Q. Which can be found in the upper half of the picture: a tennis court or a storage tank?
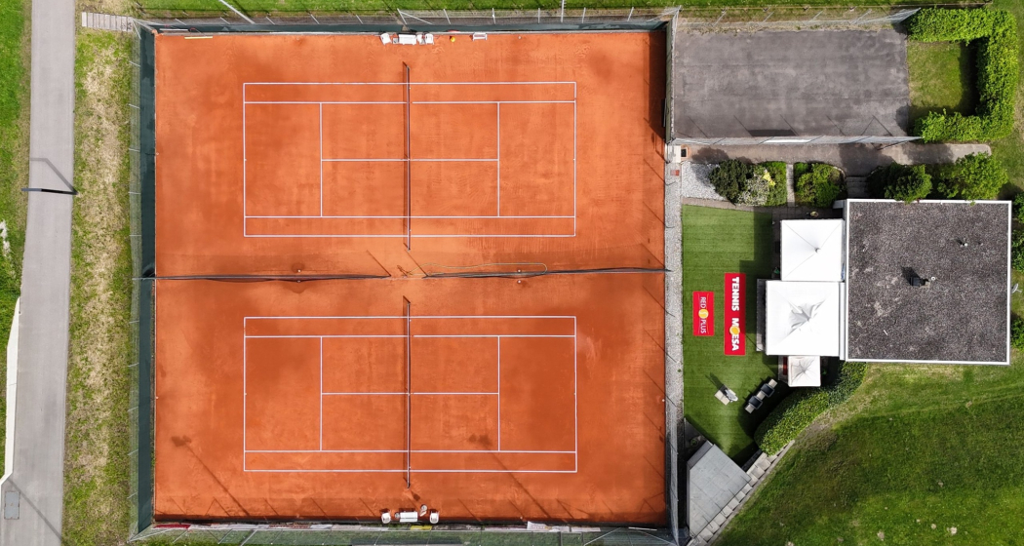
tennis court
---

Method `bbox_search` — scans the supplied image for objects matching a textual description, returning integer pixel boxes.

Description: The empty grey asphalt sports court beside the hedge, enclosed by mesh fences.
[673,26,910,145]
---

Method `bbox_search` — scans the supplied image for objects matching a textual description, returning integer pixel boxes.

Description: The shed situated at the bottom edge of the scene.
[688,441,751,538]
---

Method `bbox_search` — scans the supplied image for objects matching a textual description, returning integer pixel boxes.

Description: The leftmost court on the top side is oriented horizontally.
[155,32,666,276]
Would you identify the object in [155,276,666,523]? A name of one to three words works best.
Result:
tennis court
